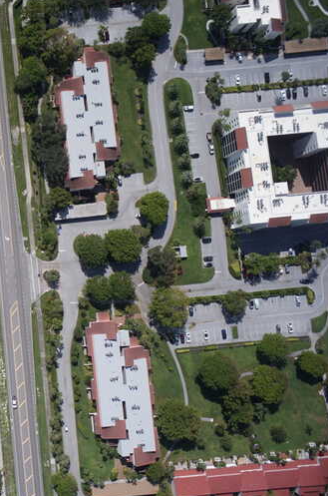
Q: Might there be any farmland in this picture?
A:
No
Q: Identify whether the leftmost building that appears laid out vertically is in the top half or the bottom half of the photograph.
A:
top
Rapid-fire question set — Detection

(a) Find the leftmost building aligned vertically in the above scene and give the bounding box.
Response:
[51,47,121,192]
